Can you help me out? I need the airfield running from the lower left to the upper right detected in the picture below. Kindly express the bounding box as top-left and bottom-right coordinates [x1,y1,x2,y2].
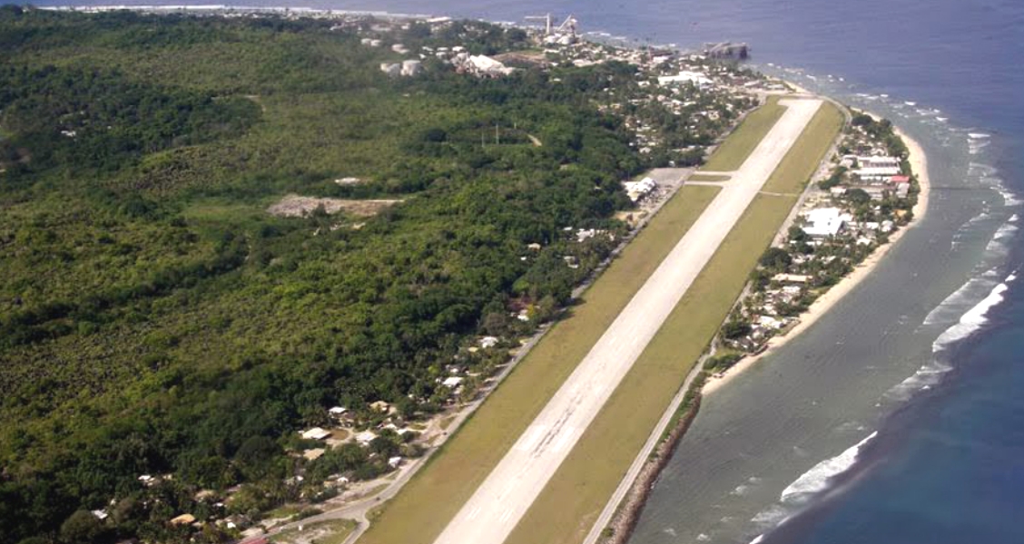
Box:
[356,96,842,544]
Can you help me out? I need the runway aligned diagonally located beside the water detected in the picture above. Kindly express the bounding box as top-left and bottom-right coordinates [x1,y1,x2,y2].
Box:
[433,101,820,544]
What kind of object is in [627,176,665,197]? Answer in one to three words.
building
